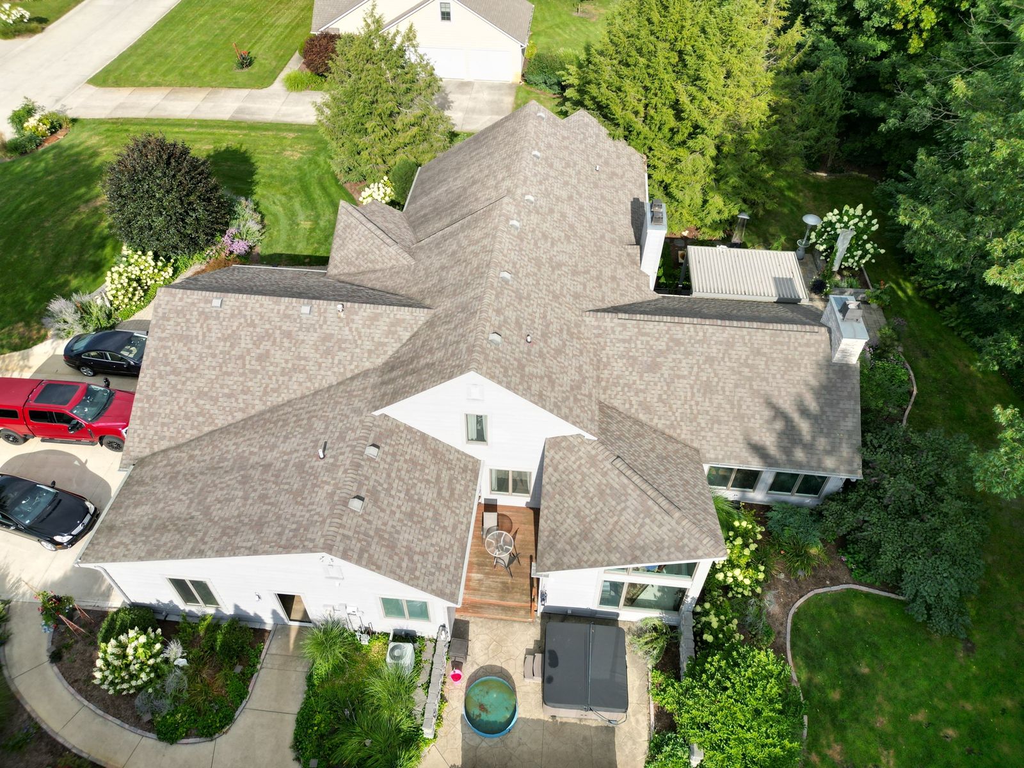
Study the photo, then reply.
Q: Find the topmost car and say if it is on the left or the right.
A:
left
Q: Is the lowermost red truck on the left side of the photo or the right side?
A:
left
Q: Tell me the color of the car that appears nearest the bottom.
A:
black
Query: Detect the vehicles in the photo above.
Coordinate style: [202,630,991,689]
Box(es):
[0,377,135,451]
[0,479,100,553]
[59,332,149,378]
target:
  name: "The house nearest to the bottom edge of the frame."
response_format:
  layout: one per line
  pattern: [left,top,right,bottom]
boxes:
[71,100,871,645]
